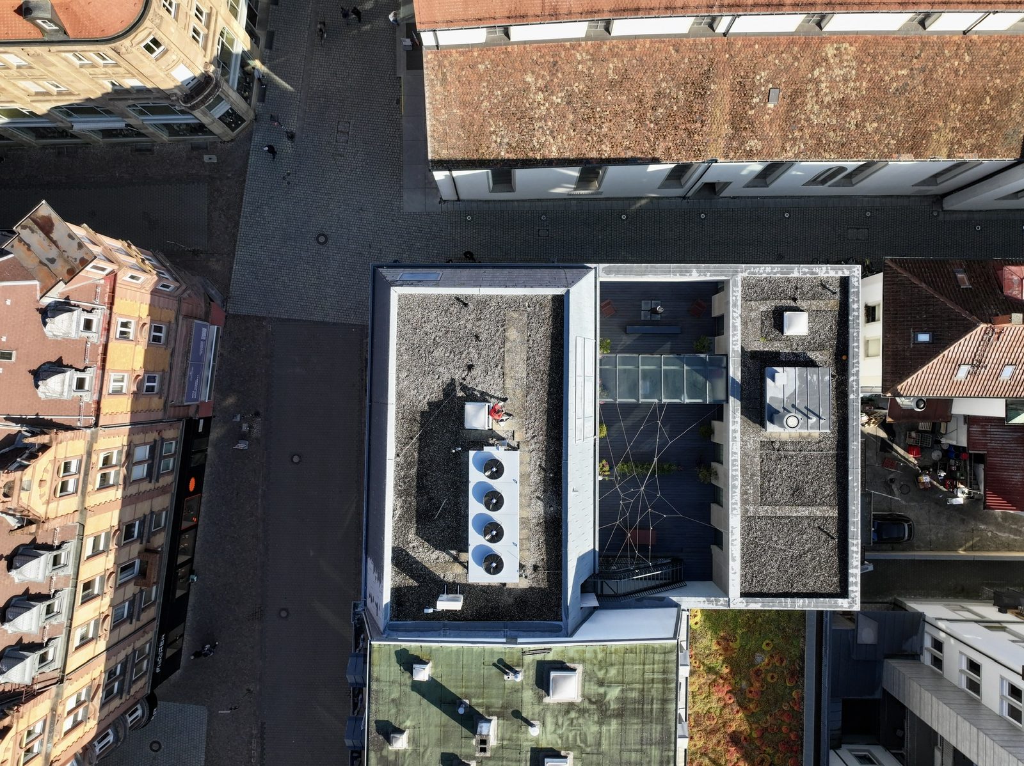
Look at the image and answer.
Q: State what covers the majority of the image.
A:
buildings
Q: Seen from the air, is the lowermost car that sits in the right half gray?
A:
No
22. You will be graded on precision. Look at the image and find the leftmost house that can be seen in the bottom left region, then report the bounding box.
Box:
[0,417,212,766]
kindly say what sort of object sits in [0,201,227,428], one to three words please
house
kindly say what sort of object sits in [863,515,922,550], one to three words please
car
